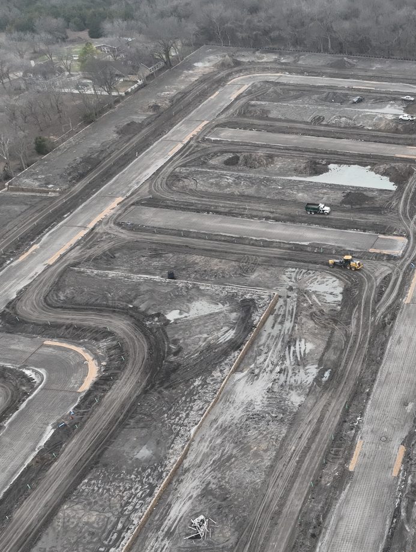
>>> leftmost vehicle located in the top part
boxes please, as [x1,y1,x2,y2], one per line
[303,204,334,216]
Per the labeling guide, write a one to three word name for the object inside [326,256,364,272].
work vehicle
